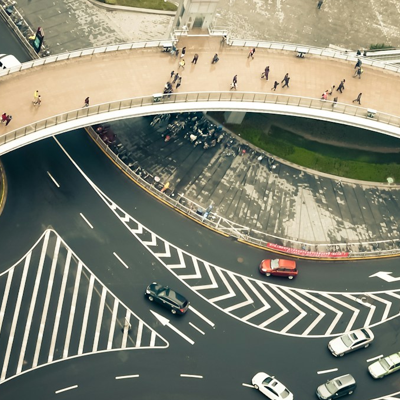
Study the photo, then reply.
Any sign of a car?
Yes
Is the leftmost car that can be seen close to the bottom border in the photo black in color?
No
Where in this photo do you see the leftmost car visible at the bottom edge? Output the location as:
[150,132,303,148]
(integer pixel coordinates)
[249,371,296,400]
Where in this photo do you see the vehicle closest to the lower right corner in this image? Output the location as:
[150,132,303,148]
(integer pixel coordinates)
[367,350,400,379]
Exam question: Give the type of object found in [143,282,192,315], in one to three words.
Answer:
car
